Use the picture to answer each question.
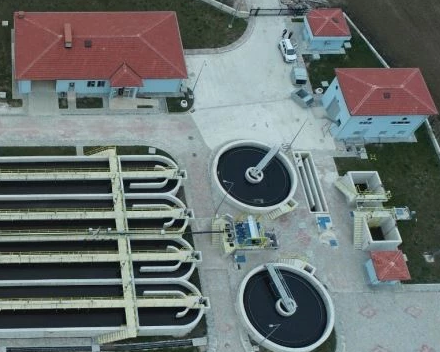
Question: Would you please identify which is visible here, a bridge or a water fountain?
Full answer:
Of the two, only a bridge appears.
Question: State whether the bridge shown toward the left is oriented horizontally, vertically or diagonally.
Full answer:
The bridge shown toward the left runs vertically in the image.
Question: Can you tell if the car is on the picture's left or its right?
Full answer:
The car sits on the right side.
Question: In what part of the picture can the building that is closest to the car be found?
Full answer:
The building that is closest to the car sits in the top right section of the image.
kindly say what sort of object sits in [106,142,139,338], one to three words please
bridge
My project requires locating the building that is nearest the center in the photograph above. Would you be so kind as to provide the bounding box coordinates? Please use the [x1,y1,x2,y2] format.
[206,212,281,258]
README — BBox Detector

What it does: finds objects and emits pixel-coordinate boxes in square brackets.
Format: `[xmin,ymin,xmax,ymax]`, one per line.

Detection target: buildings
[13,11,188,106]
[206,212,281,258]
[303,9,352,53]
[320,67,440,144]
[363,250,413,286]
